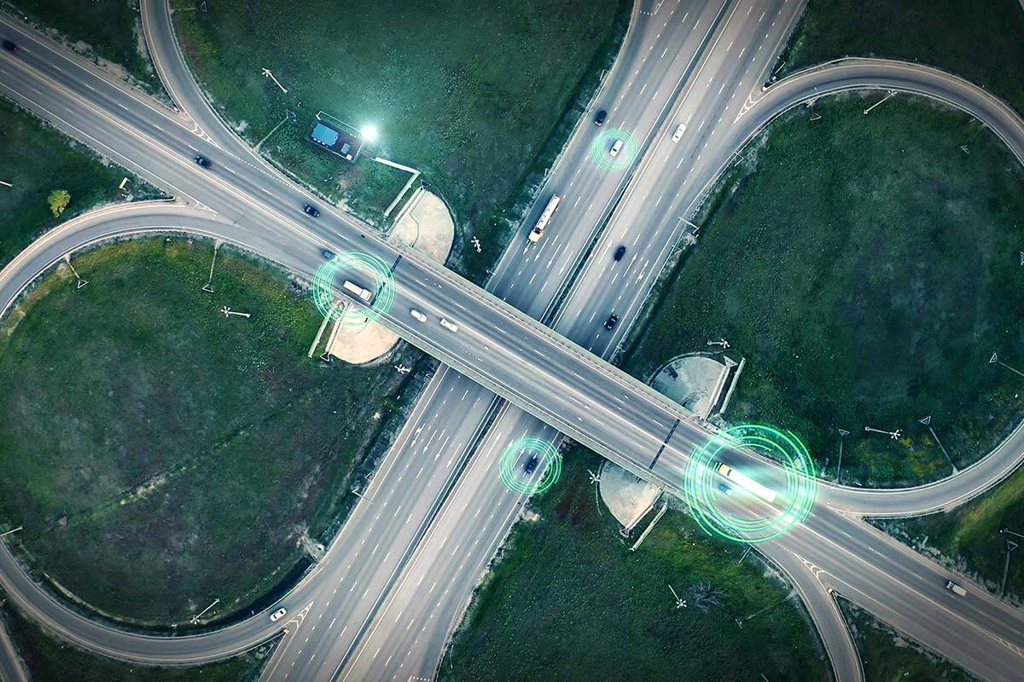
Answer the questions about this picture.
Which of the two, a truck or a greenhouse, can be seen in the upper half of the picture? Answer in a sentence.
It is a truck that can be seen in the upper half of the picture.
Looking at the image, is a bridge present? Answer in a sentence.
Yes, a bridge is visible in the scene.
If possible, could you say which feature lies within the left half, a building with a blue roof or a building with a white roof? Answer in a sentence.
You can see a building with a blue roof within the left half.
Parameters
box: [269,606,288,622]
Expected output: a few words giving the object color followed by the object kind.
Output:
white car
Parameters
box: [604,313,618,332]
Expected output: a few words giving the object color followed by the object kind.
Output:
black car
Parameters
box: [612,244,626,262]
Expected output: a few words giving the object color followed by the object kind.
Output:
black car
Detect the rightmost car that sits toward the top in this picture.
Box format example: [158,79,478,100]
[671,123,685,142]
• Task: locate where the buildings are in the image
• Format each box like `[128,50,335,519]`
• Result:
[310,120,339,145]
